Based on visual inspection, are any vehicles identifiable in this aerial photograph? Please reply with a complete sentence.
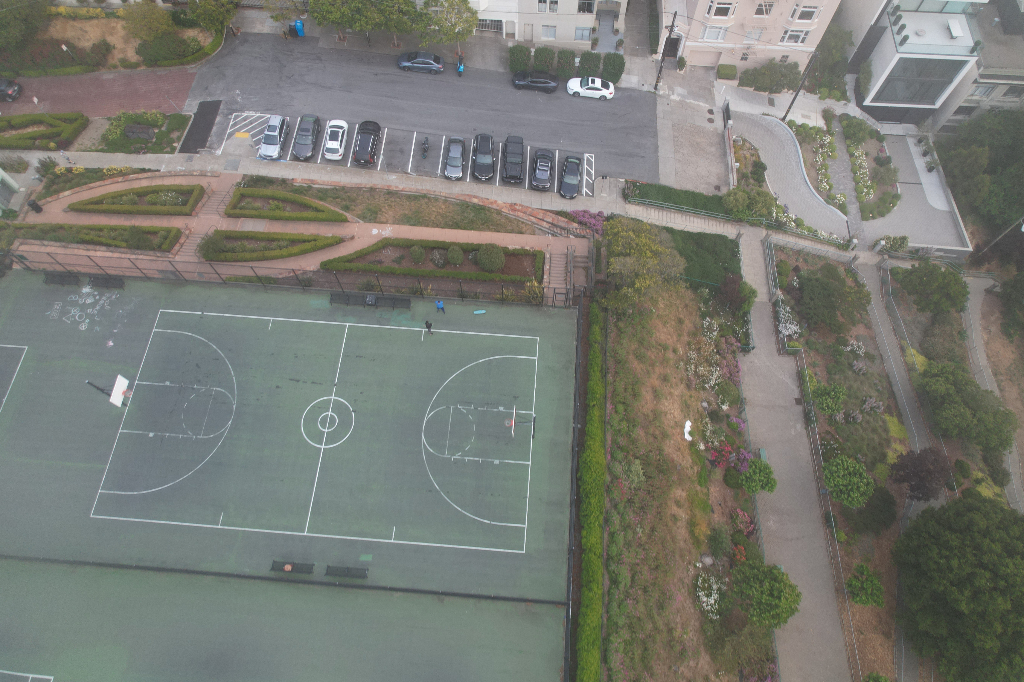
Yes, the picture does show a vehicle.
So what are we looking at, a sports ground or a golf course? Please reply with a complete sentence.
It's a sports ground.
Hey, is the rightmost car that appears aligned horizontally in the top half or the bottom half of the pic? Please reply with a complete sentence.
You can find the rightmost car that appears aligned horizontally in the top half.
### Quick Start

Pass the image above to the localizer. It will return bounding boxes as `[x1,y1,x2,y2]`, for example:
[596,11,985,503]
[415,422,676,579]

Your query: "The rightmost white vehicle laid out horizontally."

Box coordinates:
[566,76,616,103]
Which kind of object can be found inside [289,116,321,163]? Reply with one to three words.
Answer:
car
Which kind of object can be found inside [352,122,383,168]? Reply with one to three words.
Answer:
car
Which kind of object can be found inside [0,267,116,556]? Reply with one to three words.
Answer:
tennis court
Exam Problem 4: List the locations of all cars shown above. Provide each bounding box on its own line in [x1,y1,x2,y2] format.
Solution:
[557,155,583,200]
[289,116,321,163]
[470,132,496,182]
[500,133,526,184]
[529,149,554,193]
[321,120,351,164]
[509,70,560,97]
[256,114,288,161]
[566,76,616,103]
[396,50,446,77]
[352,122,383,168]
[440,137,467,181]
